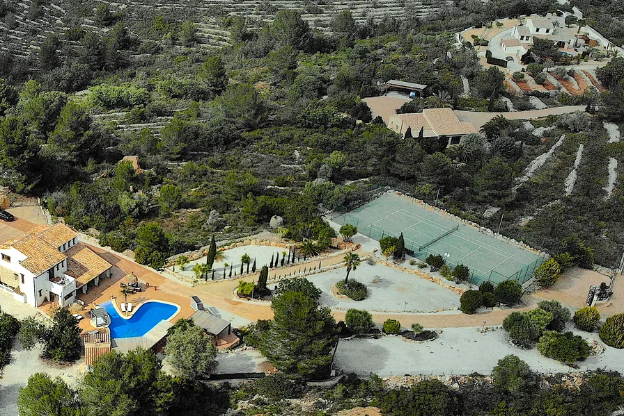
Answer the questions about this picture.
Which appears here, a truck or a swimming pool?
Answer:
swimming pool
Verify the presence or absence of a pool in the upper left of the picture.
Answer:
No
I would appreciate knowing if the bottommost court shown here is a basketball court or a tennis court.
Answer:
tennis court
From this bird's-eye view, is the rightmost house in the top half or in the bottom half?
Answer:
top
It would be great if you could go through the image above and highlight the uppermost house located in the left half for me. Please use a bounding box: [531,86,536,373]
[0,218,114,307]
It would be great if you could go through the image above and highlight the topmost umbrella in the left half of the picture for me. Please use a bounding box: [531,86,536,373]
[125,270,141,286]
